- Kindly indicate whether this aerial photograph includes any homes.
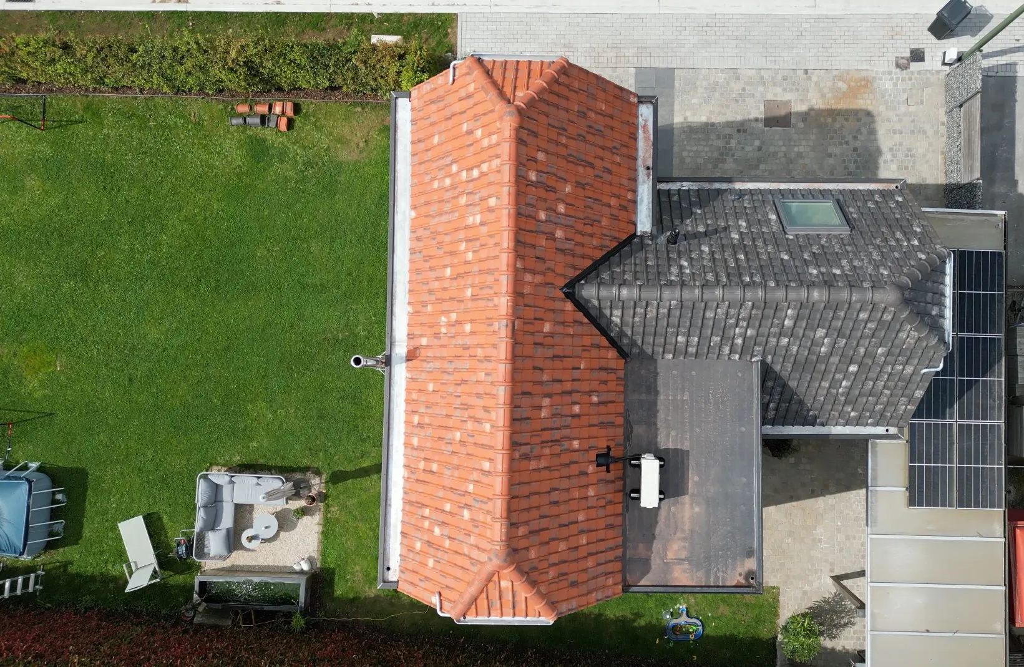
Yes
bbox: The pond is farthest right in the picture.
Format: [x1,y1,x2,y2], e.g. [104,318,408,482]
[194,571,312,610]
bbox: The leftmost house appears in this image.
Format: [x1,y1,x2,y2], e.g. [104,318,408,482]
[351,48,656,628]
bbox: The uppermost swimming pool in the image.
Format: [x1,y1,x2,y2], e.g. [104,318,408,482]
[0,461,66,558]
